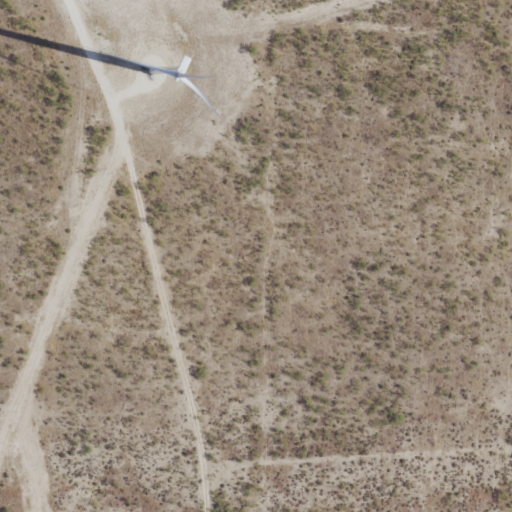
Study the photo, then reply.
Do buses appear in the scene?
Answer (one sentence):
No, no bus can be seen from above.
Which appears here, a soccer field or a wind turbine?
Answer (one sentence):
Looking from above, you can make out a wind turbine.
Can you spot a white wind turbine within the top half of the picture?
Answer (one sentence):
Yes, there is a white wind turbine within the top half of the picture.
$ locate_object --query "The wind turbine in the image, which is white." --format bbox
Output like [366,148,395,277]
[90,53,222,118]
